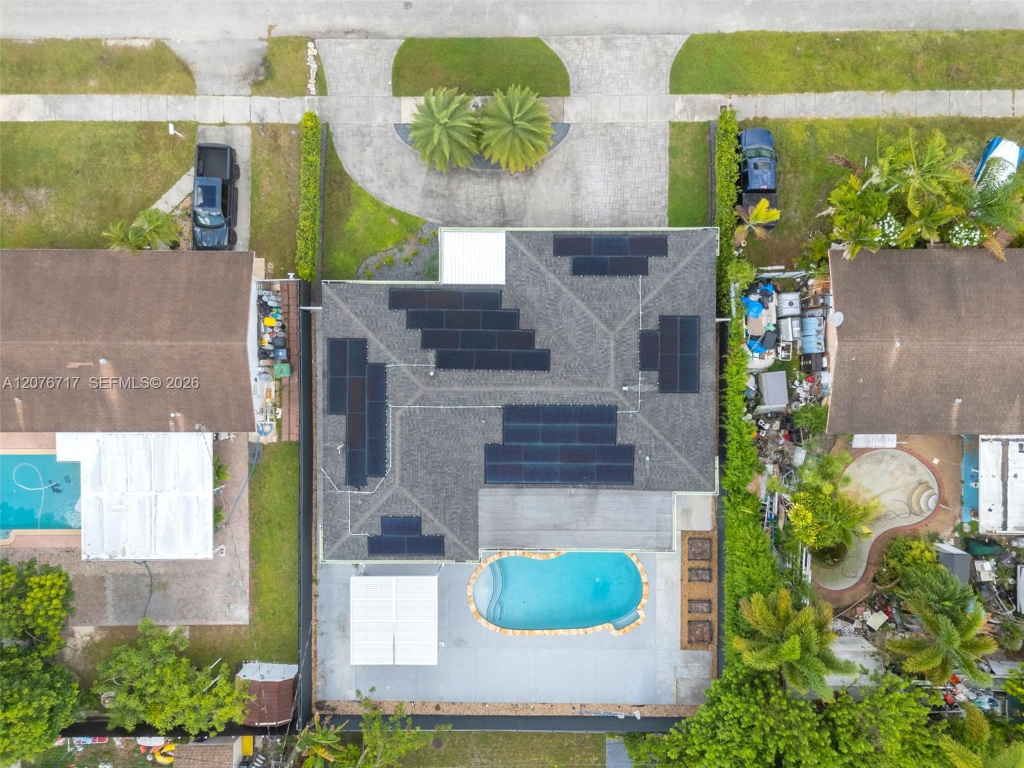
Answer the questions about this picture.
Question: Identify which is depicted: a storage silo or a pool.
pool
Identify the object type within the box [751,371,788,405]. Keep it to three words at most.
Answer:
shed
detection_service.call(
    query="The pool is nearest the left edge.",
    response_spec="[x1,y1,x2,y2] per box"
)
[0,454,80,540]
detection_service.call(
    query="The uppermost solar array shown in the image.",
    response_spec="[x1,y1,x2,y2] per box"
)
[554,236,668,277]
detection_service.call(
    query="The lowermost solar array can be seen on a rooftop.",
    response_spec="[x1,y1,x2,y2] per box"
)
[368,515,444,556]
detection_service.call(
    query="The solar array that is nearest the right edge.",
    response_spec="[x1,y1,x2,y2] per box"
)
[638,316,699,393]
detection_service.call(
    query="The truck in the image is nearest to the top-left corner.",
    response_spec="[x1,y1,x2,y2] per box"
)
[190,144,244,250]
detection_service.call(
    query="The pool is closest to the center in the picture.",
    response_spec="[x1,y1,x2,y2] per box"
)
[467,552,649,638]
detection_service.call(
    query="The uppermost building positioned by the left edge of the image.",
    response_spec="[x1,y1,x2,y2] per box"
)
[0,250,261,433]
